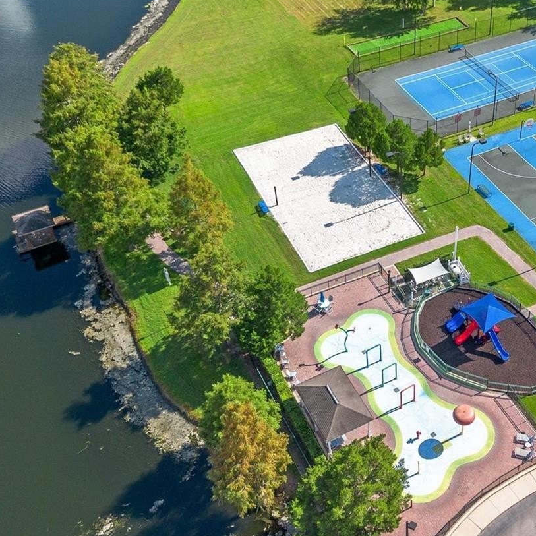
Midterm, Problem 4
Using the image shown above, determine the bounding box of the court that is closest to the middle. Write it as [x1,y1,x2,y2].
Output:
[233,122,426,275]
